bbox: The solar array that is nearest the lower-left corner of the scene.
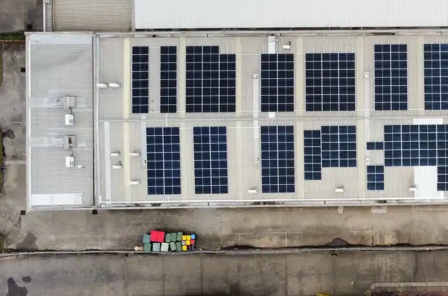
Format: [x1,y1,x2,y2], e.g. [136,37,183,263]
[145,126,181,194]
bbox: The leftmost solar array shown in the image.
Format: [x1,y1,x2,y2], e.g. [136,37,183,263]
[131,45,148,114]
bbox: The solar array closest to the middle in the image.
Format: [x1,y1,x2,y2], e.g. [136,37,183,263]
[193,125,228,194]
